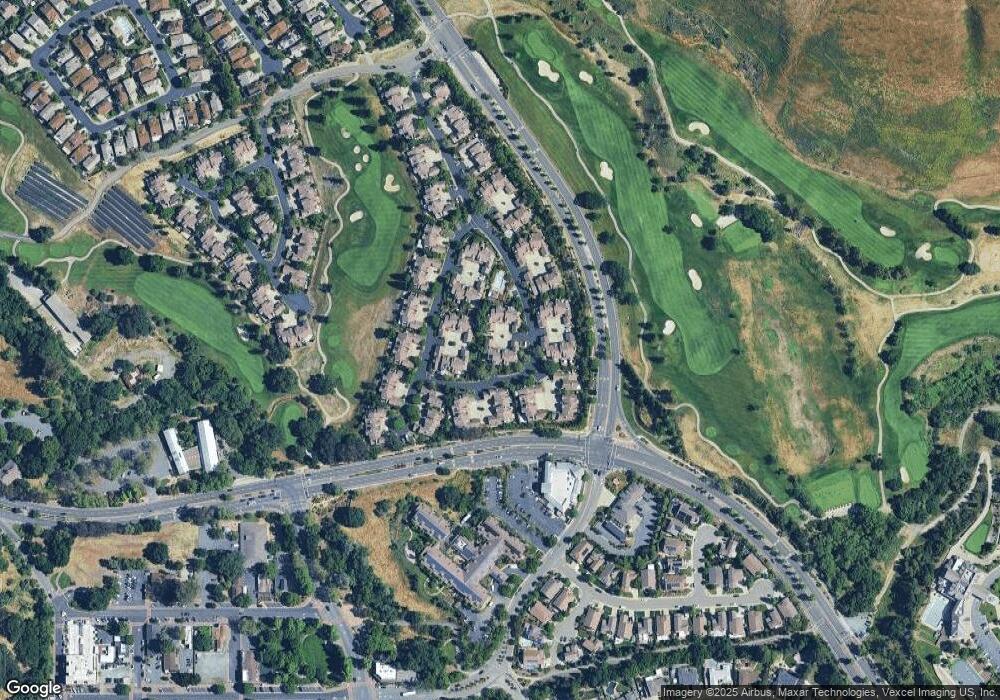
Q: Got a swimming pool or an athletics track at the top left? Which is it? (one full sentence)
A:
The feature located at the top left is a swimming pool.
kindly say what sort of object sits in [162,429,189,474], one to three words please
building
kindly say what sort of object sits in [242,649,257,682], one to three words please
barn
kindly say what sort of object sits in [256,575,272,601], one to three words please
house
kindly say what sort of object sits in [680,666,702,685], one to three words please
house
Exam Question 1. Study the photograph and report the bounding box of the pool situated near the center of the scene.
[492,276,505,297]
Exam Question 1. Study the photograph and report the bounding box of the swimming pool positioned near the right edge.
[921,593,950,631]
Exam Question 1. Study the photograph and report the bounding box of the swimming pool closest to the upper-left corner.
[112,16,135,46]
